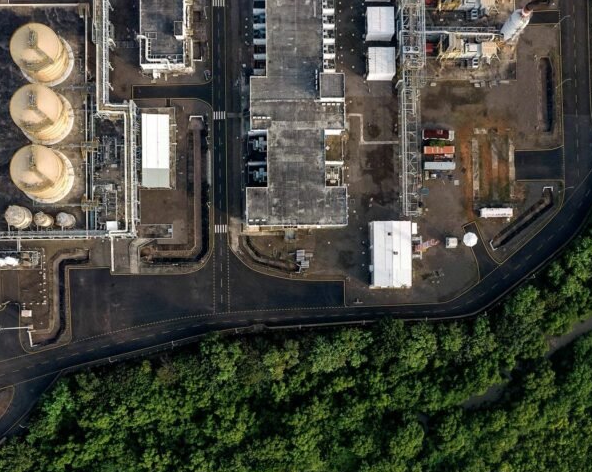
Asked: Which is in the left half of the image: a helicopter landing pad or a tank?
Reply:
tank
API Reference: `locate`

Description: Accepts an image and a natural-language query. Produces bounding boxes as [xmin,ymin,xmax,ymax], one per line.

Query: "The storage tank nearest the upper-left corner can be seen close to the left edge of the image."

[11,22,75,86]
